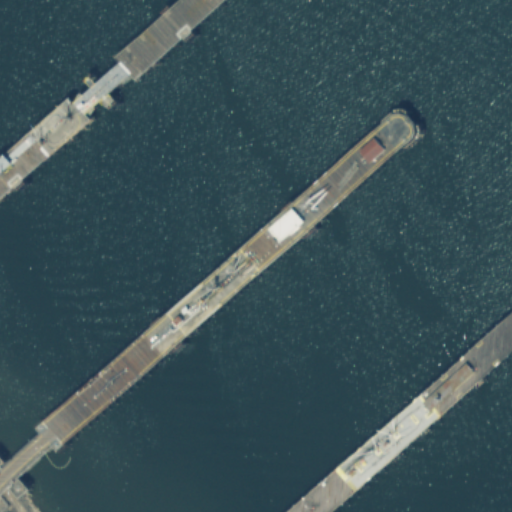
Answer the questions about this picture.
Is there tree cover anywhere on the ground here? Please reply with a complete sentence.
No, there's no tree cover in this view.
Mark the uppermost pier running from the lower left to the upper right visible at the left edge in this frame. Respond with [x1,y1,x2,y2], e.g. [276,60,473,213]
[0,98,90,204]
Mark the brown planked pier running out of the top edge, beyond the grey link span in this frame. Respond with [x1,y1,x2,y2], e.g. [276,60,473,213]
[114,0,228,80]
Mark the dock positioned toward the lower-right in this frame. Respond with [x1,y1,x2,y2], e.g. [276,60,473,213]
[286,312,512,512]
